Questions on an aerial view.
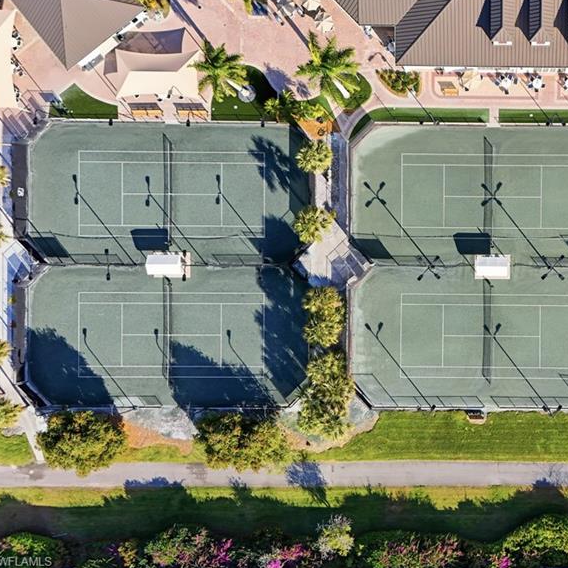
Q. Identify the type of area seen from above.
sports ground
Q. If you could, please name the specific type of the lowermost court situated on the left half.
tennis court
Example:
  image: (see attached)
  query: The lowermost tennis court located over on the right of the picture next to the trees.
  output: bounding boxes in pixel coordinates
[349,265,568,409]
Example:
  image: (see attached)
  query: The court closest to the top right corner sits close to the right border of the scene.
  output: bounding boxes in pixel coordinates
[349,122,568,265]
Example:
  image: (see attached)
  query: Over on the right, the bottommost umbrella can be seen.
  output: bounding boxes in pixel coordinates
[460,73,476,90]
